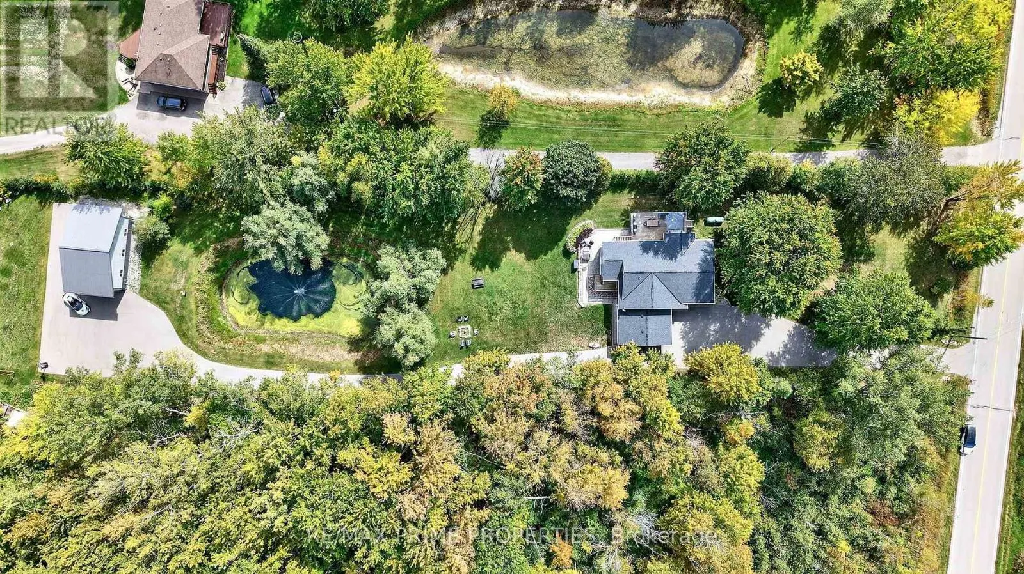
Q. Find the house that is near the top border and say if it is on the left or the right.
left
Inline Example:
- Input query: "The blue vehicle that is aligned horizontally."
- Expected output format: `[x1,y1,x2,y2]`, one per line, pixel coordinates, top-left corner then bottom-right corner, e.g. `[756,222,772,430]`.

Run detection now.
[157,95,188,110]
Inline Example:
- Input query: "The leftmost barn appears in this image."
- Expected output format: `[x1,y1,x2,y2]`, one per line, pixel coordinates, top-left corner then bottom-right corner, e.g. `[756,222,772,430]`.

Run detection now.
[57,204,135,298]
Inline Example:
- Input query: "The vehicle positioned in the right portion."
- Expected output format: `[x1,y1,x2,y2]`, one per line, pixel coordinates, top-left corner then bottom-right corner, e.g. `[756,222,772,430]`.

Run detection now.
[957,424,976,456]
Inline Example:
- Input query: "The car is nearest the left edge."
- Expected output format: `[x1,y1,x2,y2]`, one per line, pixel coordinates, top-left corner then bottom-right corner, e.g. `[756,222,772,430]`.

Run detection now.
[62,293,91,317]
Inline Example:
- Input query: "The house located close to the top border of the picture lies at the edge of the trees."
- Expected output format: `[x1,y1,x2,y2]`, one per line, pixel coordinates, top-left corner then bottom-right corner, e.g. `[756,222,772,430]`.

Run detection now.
[135,0,215,95]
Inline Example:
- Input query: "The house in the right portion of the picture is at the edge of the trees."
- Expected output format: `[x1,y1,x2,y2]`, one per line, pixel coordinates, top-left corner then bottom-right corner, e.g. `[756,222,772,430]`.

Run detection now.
[601,230,721,346]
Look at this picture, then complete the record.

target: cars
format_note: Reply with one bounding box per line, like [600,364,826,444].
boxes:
[957,424,976,456]
[157,95,188,110]
[62,293,91,317]
[260,82,277,111]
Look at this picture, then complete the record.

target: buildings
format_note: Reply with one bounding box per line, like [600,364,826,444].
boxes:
[135,0,215,95]
[601,230,721,346]
[57,204,135,298]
